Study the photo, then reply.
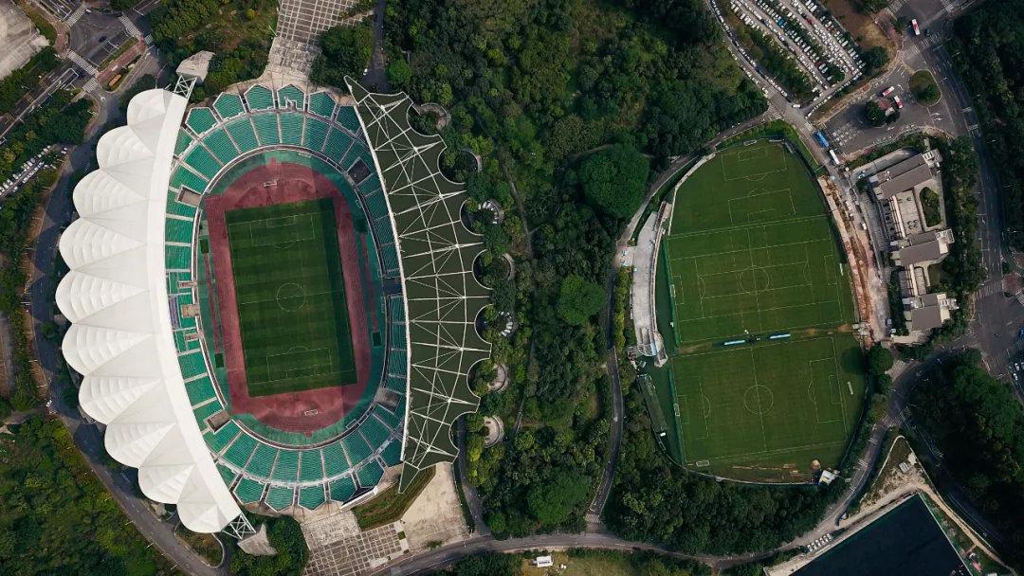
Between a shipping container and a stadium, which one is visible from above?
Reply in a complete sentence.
It is a stadium that can be seen here.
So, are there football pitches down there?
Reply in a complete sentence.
Yes, looking at the shot, I can spot a football pitch.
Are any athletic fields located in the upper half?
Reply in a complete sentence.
Yes, there is an athletic field in the upper half.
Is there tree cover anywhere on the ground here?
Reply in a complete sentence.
Yes, tree cover can be seen from above here.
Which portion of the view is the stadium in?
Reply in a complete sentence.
The stadium is located in the left region of the scene.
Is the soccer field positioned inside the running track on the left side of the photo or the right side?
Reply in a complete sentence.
You can find the soccer field positioned inside the running track on the left side of the picture.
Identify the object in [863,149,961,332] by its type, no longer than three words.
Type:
building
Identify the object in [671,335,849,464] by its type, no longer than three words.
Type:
sports field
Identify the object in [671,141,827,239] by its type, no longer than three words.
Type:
sports field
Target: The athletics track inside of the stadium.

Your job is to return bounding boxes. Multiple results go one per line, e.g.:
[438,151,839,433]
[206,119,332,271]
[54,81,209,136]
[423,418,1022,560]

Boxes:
[196,149,384,444]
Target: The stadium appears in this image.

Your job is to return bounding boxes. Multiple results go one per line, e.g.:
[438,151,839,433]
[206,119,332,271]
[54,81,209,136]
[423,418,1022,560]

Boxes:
[53,50,495,557]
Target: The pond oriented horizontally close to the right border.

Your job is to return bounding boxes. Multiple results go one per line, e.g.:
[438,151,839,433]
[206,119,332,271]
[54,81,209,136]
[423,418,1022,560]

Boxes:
[783,493,973,576]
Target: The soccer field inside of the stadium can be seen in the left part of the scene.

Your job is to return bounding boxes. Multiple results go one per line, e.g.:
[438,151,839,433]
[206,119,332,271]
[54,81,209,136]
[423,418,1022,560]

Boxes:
[225,196,358,397]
